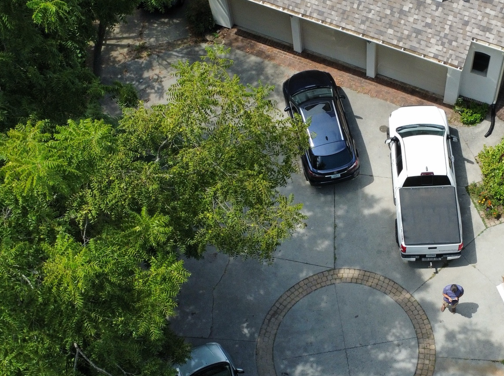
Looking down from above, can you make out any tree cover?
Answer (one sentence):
Yes, there is tree cover in the image.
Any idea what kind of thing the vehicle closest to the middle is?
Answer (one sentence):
The vehicle closest to the middle appears to be a car.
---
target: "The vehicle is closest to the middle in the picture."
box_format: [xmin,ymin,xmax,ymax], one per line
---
[283,72,360,189]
